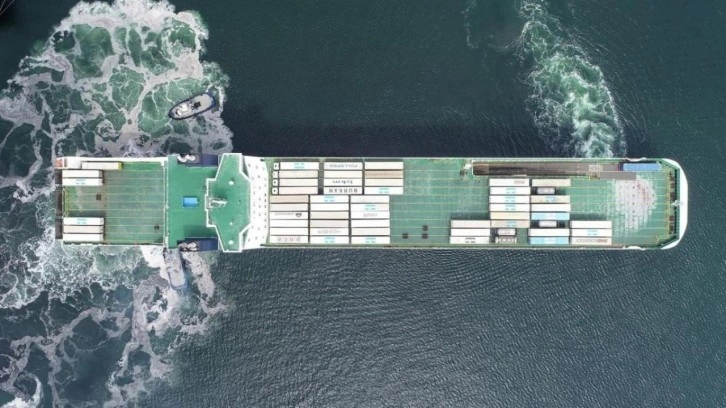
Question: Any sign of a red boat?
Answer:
No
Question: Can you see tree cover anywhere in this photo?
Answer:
No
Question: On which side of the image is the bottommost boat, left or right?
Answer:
left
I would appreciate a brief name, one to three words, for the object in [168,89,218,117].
boat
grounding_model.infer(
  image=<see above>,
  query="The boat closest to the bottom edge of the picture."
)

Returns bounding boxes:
[164,246,186,291]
